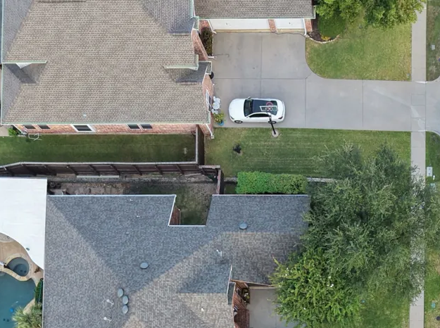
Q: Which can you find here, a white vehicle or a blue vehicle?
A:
white vehicle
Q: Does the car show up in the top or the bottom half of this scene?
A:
top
